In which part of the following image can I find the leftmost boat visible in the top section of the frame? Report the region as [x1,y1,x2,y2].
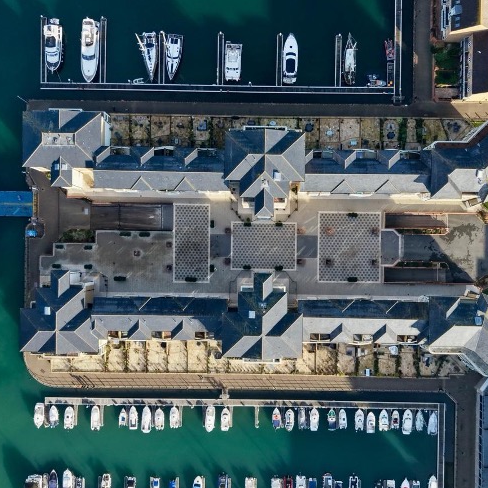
[44,16,62,72]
